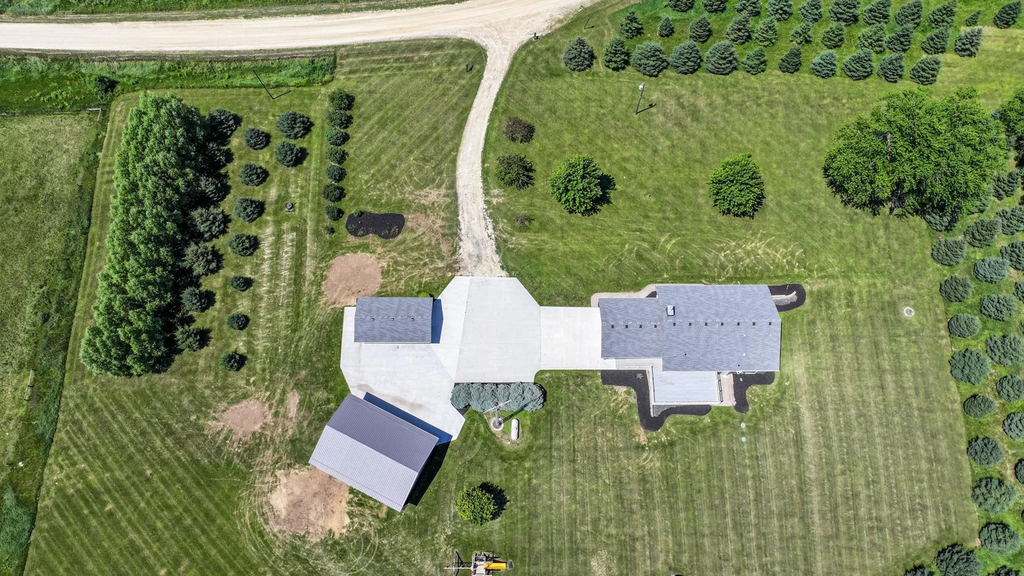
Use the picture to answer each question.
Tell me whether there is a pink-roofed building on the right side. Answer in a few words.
No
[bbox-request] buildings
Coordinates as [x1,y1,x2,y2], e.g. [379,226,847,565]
[354,297,433,345]
[310,392,439,512]
[599,284,781,372]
